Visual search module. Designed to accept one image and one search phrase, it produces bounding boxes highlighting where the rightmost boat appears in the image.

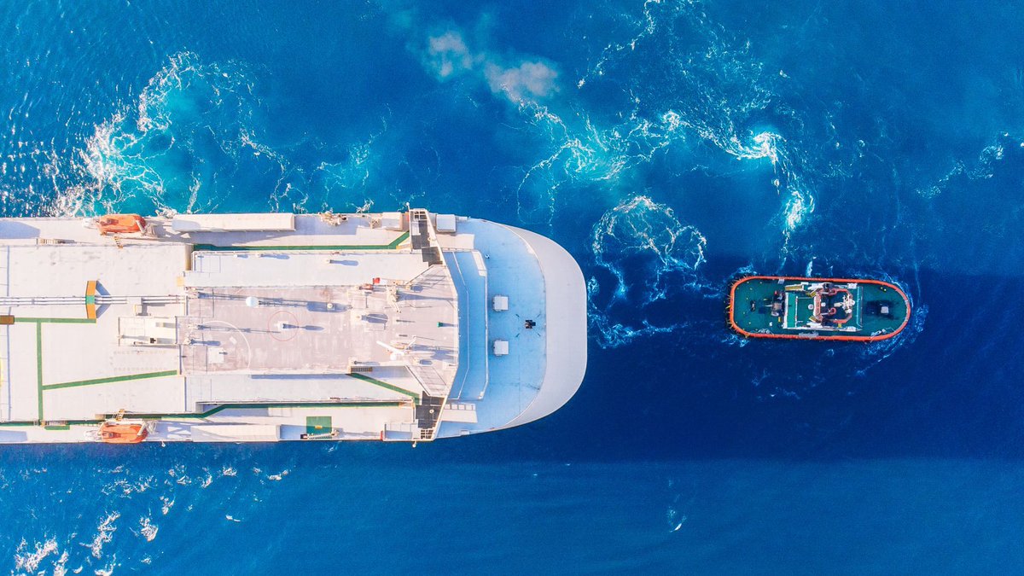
[725,274,910,342]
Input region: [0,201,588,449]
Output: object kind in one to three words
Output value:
ship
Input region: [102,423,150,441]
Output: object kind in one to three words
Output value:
boat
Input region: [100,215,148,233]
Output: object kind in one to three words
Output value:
boat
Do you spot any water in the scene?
Yes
